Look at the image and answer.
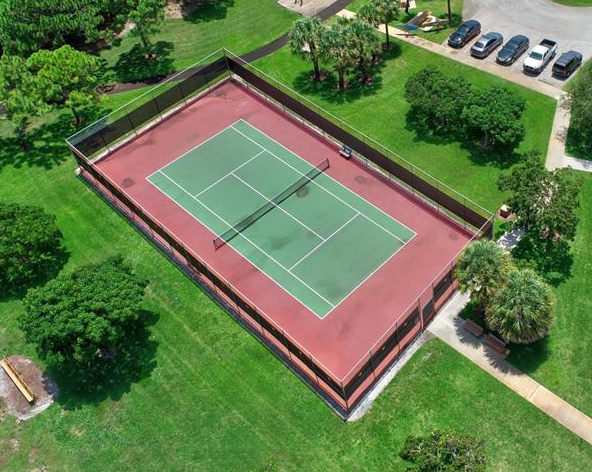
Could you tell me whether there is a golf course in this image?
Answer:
No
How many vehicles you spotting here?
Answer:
5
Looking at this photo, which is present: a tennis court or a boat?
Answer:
tennis court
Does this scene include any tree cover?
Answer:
Yes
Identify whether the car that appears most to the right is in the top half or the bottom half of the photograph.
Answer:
top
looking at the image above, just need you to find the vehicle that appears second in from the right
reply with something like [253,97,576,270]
[522,40,560,78]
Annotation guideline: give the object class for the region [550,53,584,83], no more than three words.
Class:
car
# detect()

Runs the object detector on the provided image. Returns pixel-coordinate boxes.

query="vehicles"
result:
[470,35,504,63]
[522,40,560,78]
[550,53,584,83]
[449,21,480,49]
[497,37,530,67]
